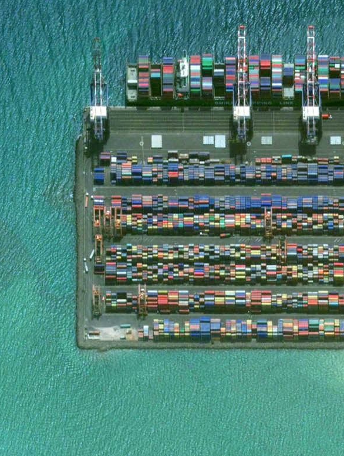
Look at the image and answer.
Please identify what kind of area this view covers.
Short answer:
port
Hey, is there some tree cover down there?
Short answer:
No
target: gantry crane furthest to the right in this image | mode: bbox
[300,26,321,143]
